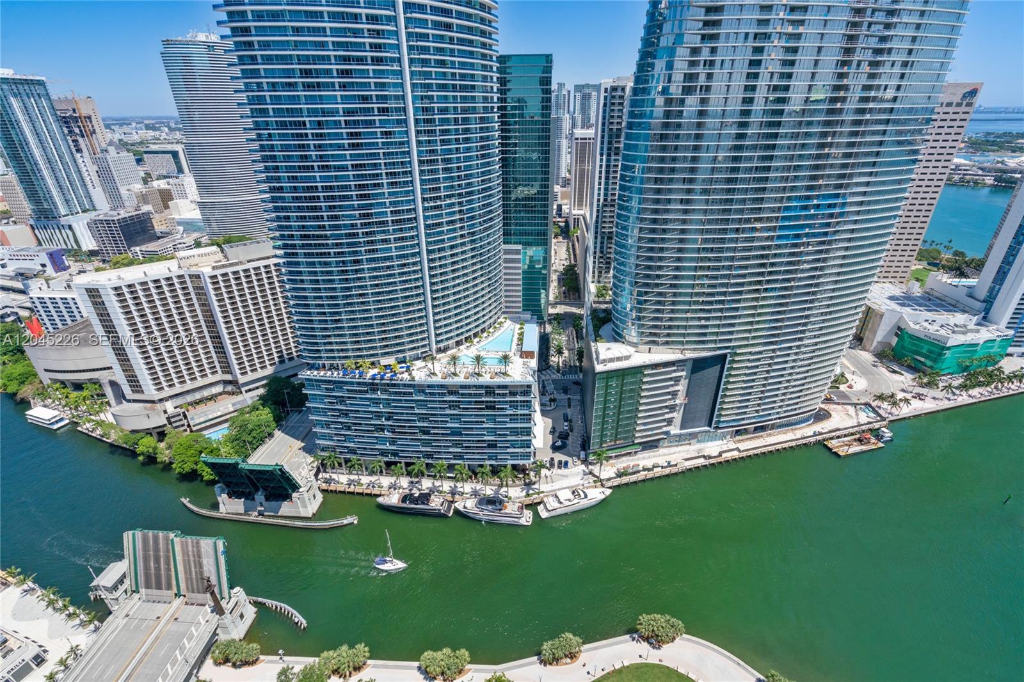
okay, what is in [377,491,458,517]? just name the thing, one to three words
boat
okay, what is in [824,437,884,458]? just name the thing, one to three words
ship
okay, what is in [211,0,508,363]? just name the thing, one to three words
building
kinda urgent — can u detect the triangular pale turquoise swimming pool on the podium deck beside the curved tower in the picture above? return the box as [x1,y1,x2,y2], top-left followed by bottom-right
[476,324,515,349]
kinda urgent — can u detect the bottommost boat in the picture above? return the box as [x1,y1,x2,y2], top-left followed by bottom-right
[374,536,406,569]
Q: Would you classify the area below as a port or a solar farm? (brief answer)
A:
port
